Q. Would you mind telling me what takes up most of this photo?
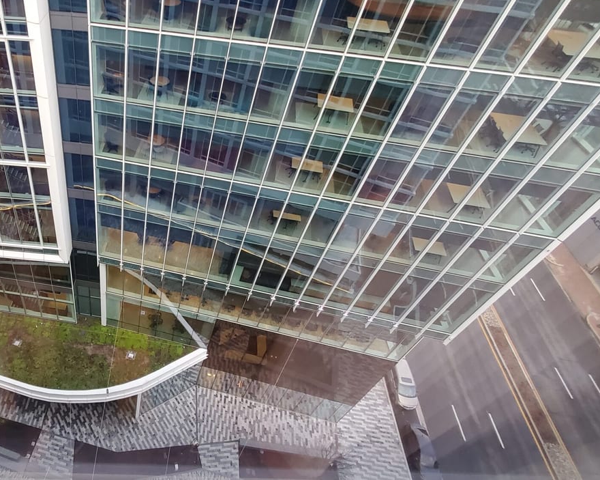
buildings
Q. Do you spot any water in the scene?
No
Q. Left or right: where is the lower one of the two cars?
right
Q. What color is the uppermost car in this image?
white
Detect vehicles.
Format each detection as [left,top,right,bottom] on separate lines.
[387,361,420,411]
[406,431,445,480]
